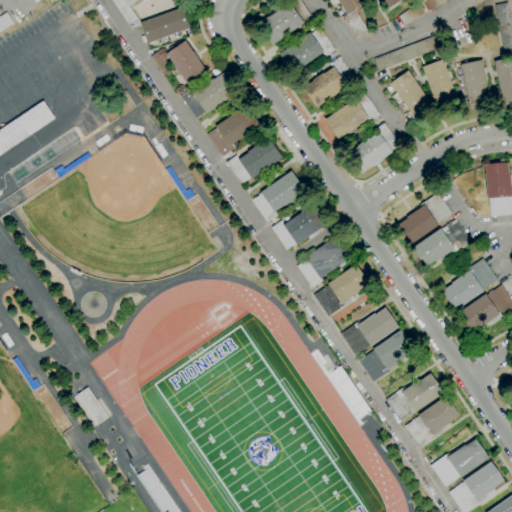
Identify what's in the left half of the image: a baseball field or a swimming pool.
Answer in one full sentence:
Visible in the left half of the image is a baseball field.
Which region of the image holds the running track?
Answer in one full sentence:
The running track appears toward the bottom of the photo.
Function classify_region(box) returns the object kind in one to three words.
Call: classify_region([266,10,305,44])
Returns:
house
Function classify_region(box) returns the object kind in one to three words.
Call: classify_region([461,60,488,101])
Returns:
building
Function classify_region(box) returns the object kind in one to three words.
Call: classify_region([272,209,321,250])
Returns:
house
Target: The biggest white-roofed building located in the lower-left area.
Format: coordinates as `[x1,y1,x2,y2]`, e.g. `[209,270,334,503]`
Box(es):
[74,387,112,427]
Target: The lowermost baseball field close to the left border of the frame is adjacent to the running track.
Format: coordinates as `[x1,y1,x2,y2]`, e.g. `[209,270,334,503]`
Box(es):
[0,340,107,512]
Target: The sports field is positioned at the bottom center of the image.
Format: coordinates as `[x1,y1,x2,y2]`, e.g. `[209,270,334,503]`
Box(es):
[140,314,388,512]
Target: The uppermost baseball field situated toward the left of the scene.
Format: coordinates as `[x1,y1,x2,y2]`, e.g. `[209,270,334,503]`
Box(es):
[20,133,220,282]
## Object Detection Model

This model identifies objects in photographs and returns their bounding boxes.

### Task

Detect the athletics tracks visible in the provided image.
[90,280,406,512]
